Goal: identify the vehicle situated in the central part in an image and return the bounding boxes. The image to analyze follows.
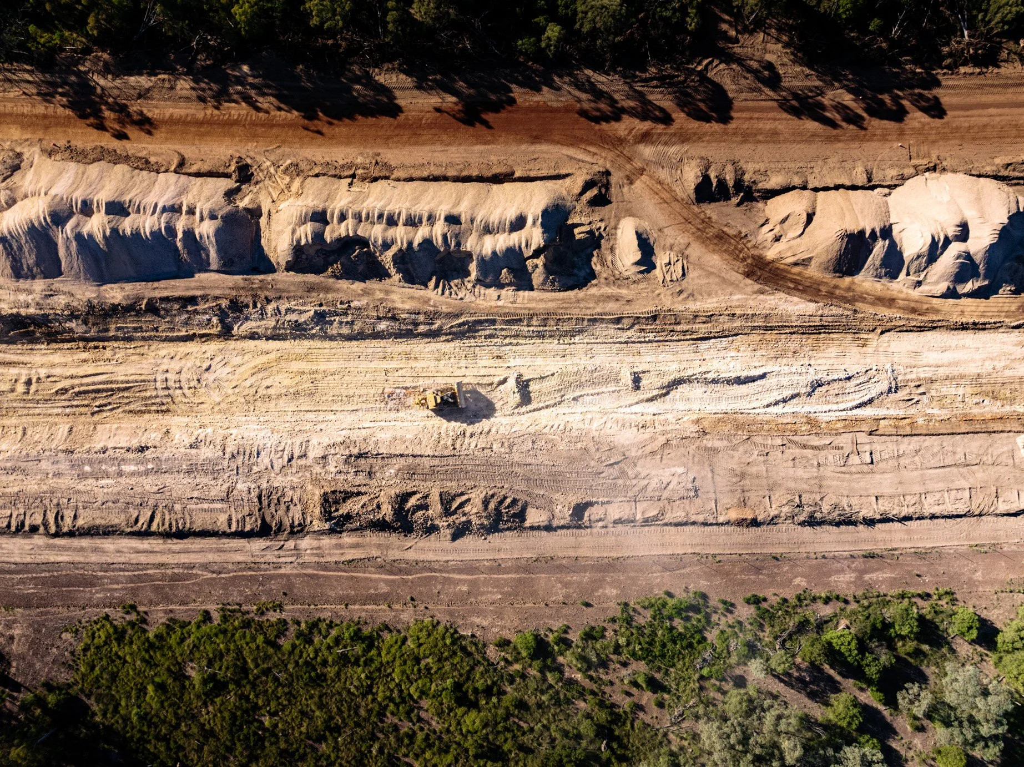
[418,381,464,409]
